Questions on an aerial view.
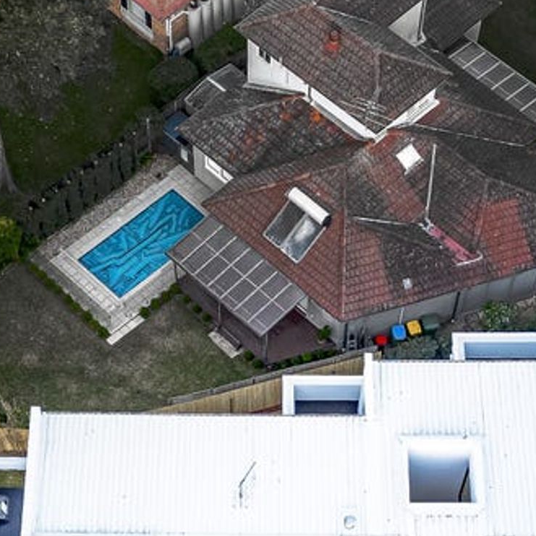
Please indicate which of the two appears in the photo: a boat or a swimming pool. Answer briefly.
swimming pool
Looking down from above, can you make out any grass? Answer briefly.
Yes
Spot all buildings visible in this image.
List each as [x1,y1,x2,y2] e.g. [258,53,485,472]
[20,332,536,536]
[177,0,536,342]
[96,0,220,59]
